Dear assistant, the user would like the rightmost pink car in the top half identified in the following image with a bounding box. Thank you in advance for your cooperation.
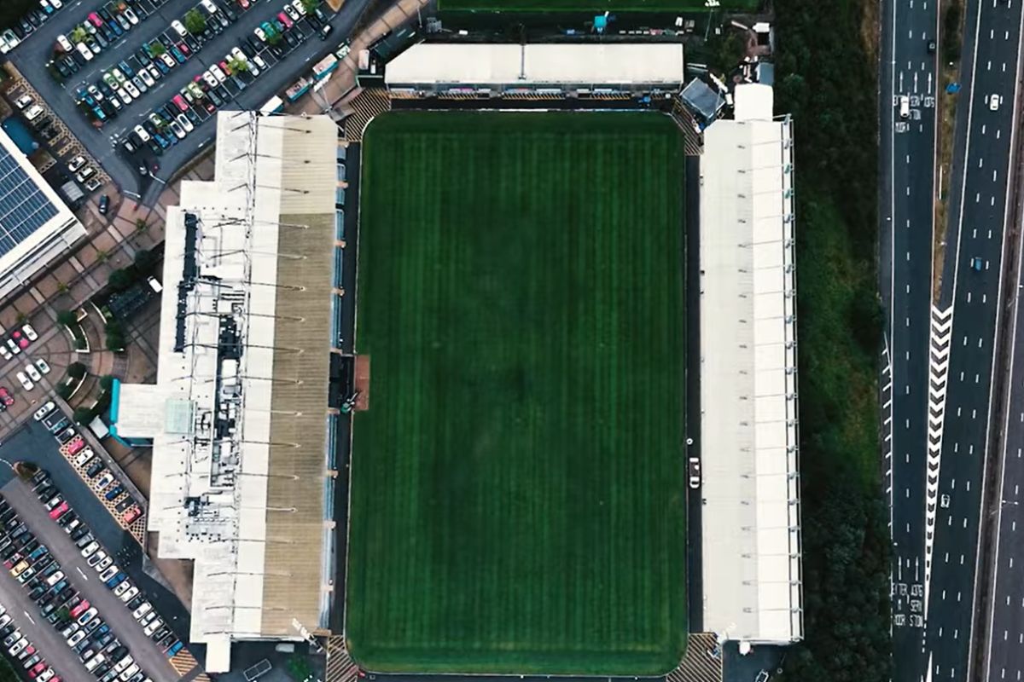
[277,10,294,29]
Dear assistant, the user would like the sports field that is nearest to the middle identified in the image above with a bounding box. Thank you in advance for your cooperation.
[346,111,688,677]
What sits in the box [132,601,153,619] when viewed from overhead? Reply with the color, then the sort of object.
white car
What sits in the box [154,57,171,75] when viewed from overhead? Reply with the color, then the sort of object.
blue car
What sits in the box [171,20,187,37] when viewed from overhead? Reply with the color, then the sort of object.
white car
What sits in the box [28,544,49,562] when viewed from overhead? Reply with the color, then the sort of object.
blue car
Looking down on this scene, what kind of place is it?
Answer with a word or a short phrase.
sports ground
